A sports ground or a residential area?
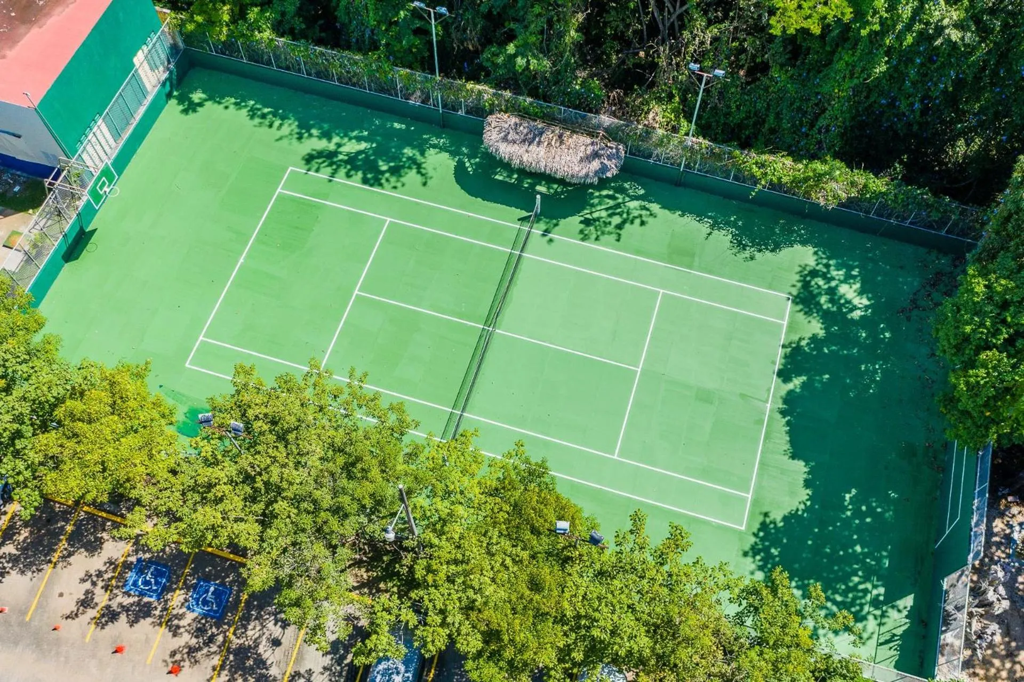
sports ground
